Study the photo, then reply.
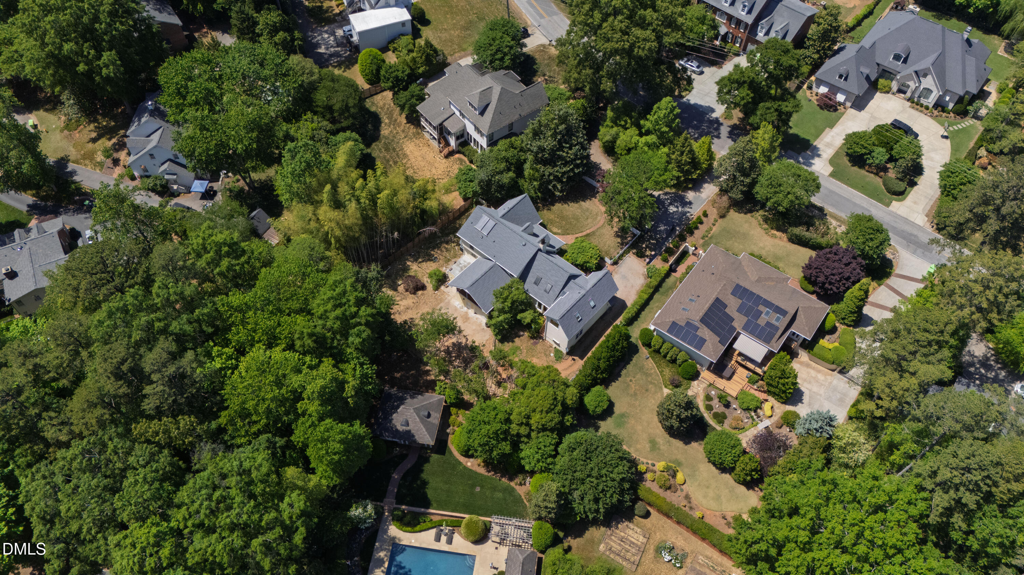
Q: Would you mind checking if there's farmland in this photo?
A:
No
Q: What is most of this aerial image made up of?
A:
trees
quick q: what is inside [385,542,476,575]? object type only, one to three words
swimming pool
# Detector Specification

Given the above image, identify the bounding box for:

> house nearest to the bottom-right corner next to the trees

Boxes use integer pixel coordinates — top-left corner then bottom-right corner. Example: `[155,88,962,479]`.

[649,243,831,370]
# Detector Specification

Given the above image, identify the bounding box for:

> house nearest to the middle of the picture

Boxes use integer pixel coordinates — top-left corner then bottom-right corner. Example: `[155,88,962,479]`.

[446,194,619,352]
